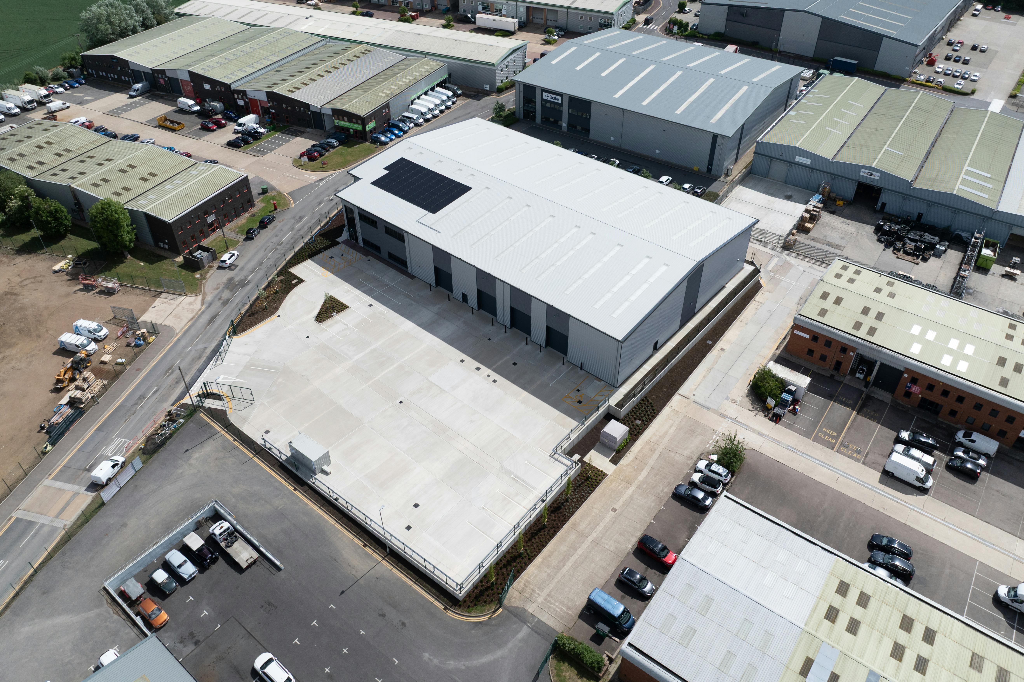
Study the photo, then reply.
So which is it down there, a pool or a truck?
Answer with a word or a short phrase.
truck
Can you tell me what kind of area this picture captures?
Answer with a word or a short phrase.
industrial area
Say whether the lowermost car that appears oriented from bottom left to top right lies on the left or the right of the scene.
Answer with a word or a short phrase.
left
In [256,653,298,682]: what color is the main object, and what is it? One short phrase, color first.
white car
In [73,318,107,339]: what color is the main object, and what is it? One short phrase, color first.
white vehicle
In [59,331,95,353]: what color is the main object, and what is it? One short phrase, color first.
white vehicle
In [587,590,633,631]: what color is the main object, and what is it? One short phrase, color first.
blue van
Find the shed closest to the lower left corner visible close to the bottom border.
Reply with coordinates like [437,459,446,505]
[89,632,195,682]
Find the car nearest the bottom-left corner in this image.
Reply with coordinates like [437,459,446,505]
[96,641,122,676]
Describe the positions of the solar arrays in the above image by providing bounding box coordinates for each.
[370,160,476,214]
